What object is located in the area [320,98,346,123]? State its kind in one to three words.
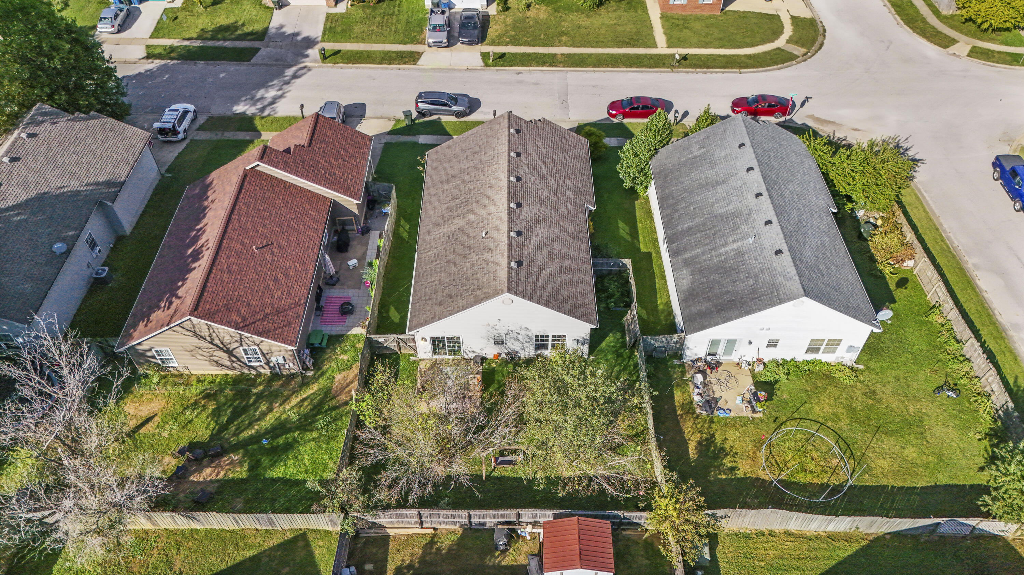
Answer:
car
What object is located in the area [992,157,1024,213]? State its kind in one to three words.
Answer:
truck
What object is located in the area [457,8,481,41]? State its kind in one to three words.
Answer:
car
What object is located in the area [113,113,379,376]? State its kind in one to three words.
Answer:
house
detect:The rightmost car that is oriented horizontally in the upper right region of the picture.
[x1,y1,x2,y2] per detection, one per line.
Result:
[730,92,794,119]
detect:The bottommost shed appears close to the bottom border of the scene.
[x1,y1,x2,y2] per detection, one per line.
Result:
[543,515,616,575]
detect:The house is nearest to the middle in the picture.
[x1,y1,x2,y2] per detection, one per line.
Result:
[405,112,601,359]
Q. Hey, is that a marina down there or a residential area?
residential area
